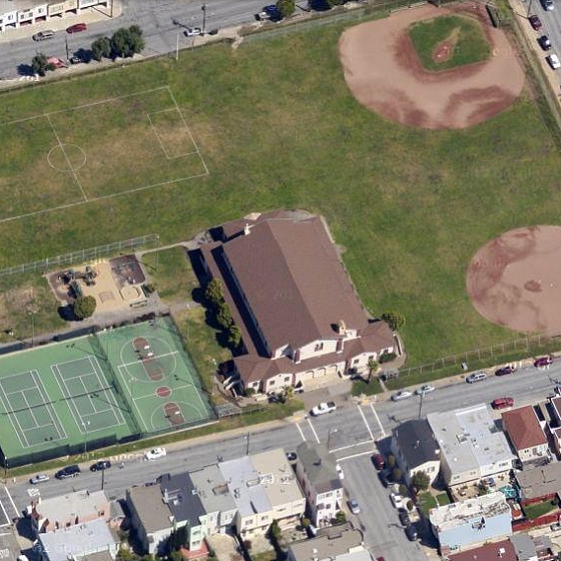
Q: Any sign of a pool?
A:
No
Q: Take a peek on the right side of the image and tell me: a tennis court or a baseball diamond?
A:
baseball diamond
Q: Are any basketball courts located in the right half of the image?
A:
No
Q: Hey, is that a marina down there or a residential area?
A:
residential area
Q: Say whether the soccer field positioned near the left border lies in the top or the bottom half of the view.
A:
top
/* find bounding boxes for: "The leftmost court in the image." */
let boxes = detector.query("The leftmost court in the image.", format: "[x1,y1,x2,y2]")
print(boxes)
[0,369,66,448]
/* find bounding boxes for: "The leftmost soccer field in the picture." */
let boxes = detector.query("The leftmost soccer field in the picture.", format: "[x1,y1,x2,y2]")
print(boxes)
[0,85,209,221]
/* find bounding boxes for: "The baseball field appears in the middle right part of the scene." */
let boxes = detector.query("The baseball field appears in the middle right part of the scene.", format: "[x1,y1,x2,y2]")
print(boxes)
[466,224,561,332]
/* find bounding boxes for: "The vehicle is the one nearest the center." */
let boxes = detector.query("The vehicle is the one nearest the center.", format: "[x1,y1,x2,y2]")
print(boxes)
[311,402,335,415]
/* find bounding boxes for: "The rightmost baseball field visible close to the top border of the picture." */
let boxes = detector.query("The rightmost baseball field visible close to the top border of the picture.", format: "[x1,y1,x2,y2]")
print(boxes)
[340,0,525,129]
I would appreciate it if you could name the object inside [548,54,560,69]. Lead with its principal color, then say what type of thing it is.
white vehicle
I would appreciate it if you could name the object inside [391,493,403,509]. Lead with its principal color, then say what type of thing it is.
white vehicle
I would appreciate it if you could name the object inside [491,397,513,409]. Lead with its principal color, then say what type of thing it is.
red vehicle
